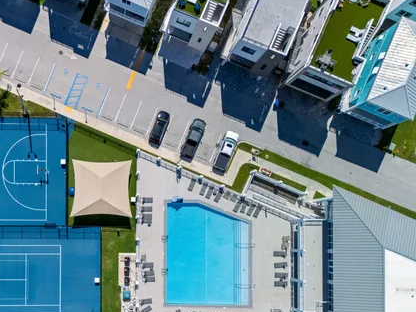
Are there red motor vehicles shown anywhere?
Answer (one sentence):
No, the picture doesn't show any red motor vehicle.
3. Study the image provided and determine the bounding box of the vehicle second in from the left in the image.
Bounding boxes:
[180,121,205,161]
